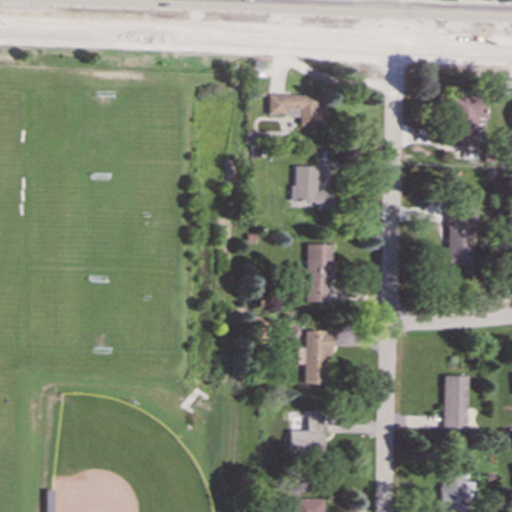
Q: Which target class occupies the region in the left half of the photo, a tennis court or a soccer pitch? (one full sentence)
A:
The one visible in the left half of the photo is a soccer pitch.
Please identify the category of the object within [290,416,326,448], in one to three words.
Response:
house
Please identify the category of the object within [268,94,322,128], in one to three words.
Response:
house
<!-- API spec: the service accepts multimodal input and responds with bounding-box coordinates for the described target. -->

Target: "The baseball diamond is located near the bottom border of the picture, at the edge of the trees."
[52,392,216,512]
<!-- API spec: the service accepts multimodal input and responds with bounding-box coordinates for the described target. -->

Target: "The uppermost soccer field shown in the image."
[27,93,182,353]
